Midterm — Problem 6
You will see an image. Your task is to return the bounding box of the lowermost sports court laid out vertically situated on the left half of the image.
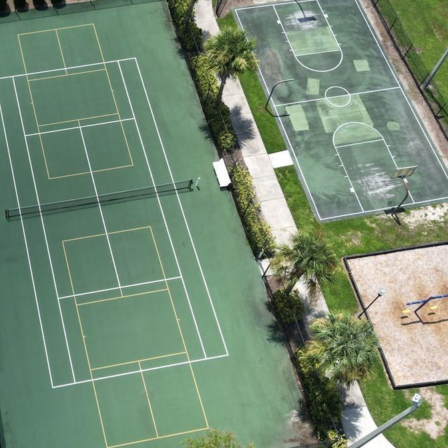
[63,226,208,448]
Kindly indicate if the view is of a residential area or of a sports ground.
sports ground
